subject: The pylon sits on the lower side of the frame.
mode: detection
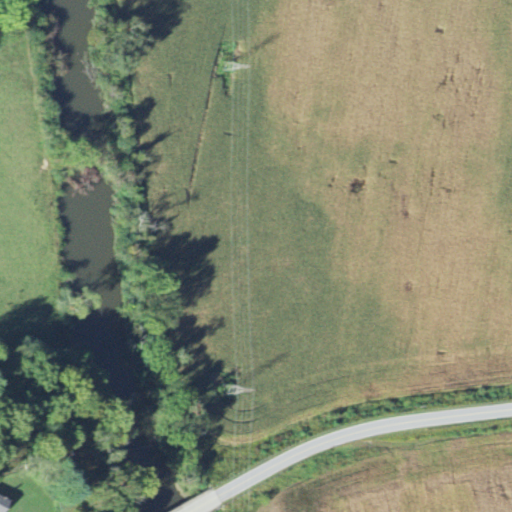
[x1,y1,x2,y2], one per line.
[226,384,250,398]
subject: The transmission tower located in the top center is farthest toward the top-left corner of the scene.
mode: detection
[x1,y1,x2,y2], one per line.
[224,60,248,72]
